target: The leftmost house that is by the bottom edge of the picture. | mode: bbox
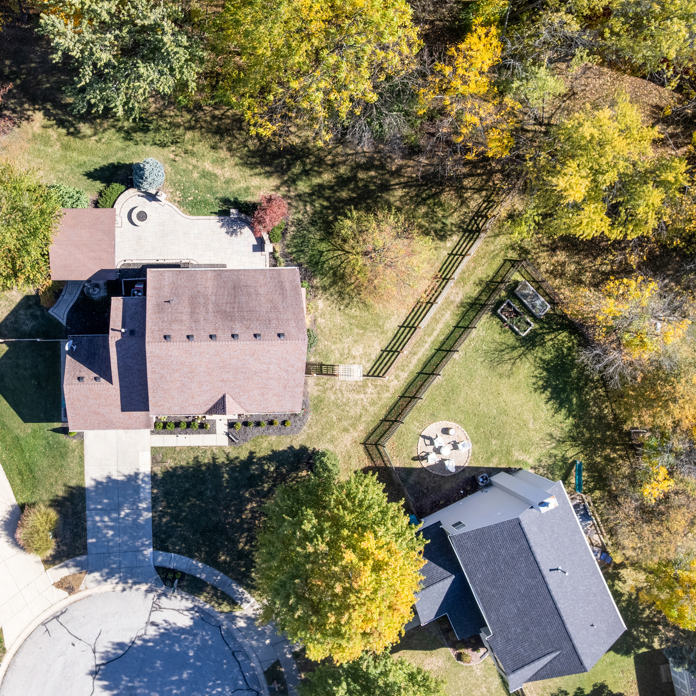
[404,467,628,694]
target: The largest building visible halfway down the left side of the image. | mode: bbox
[63,265,308,432]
